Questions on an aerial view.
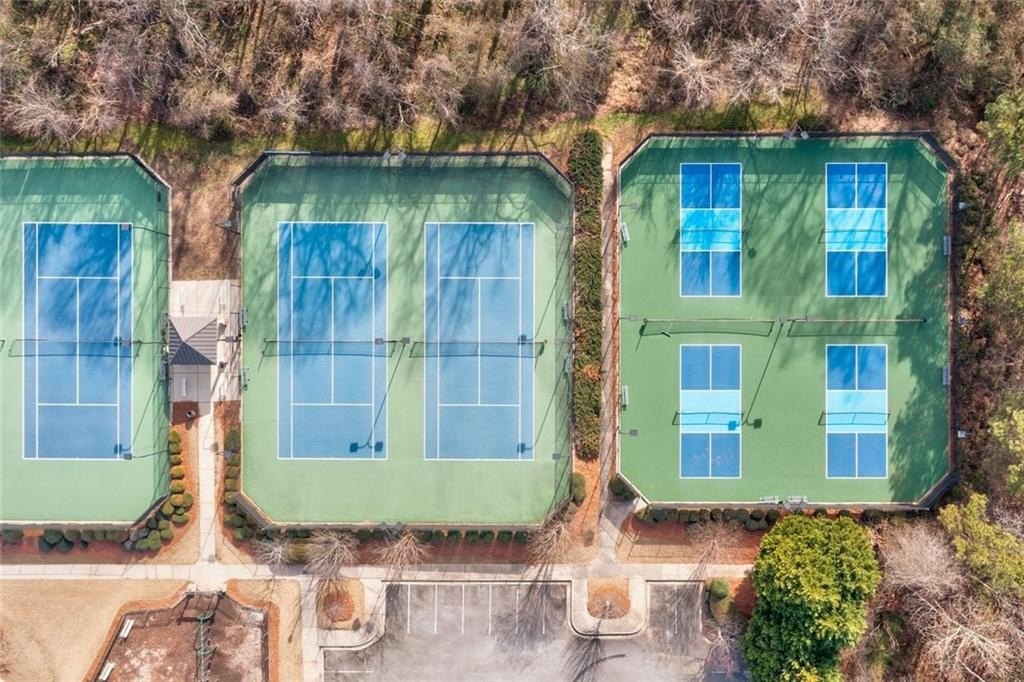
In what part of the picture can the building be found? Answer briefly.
left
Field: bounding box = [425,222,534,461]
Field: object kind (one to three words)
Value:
tennis court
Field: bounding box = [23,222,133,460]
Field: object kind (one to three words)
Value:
tennis court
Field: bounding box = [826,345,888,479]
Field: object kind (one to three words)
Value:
sports court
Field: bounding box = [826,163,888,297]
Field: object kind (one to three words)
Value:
sports court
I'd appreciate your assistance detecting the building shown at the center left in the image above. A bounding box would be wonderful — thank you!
[169,316,225,365]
